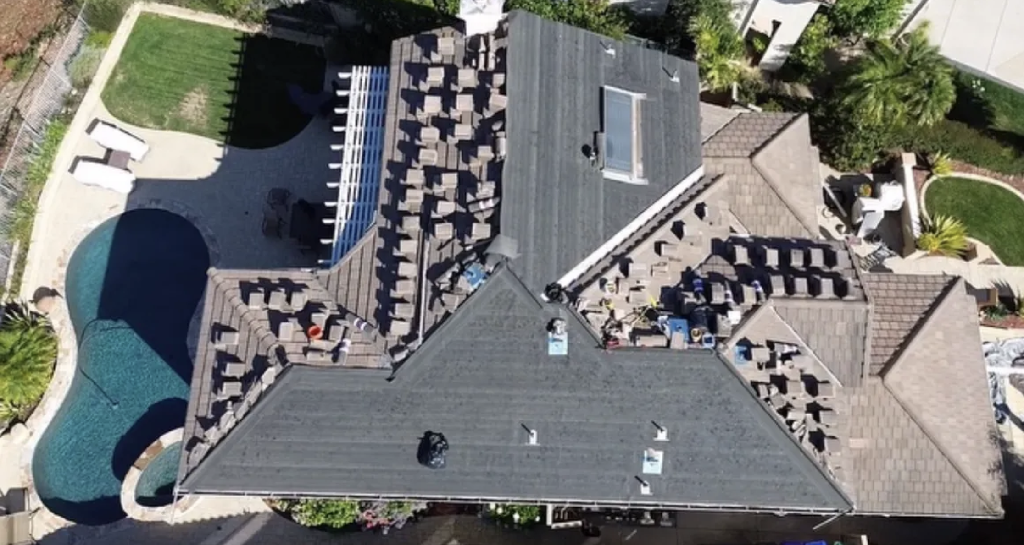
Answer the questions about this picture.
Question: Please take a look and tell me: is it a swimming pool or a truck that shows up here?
swimming pool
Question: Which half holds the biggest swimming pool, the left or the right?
left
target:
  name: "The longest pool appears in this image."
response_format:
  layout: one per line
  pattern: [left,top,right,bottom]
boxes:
[34,210,209,525]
